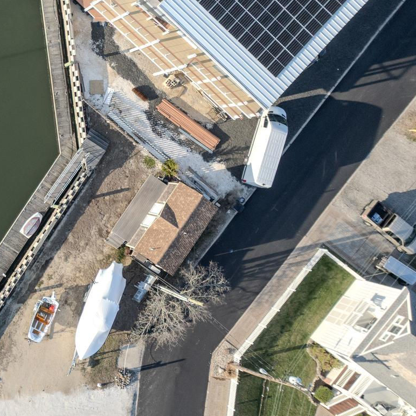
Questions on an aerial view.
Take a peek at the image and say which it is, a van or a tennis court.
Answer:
van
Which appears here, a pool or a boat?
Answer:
boat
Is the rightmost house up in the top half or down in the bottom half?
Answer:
bottom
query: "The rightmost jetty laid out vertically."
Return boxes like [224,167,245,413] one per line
[40,0,77,153]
